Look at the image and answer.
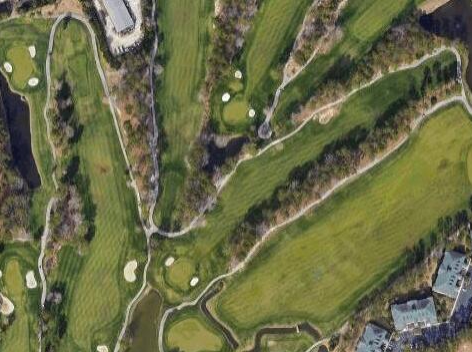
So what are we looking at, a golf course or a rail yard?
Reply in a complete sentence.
This image shows a golf course.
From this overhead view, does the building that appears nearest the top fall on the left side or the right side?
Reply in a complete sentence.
It is on the left.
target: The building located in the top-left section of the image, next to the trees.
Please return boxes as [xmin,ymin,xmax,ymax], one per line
[101,0,131,32]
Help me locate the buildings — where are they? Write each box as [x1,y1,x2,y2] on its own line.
[433,249,472,298]
[353,323,392,352]
[101,0,131,32]
[391,298,439,333]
